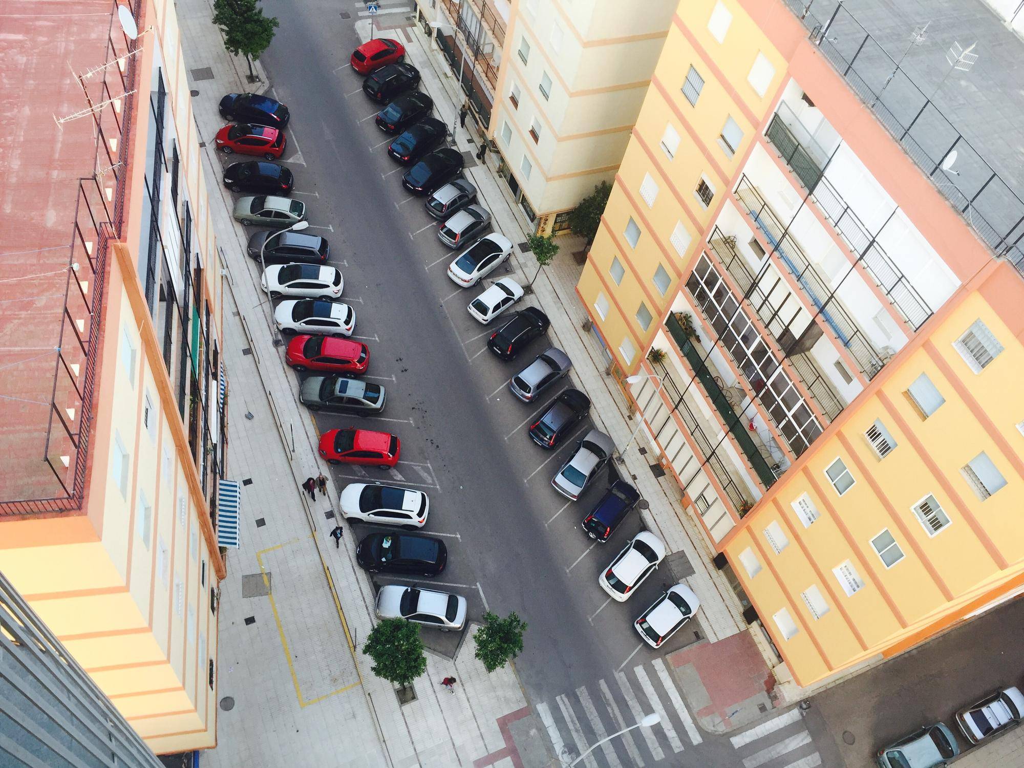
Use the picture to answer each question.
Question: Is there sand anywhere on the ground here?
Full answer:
No, the scene doesn't show any sand.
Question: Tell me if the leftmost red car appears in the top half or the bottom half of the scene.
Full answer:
It is in the top half that the leftmost red car appears.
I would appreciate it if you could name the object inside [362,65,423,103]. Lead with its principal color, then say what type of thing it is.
black car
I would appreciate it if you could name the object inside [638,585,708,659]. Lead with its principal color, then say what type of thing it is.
white car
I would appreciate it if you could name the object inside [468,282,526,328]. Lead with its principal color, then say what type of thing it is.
white car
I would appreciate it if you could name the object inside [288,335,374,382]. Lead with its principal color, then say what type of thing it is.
red car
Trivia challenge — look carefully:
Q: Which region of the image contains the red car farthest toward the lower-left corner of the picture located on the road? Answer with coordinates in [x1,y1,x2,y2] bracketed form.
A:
[320,426,403,472]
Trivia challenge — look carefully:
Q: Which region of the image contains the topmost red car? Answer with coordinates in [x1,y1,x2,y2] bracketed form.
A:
[350,40,407,77]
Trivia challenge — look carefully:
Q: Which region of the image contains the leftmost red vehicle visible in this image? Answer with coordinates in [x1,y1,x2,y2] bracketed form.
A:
[214,122,286,159]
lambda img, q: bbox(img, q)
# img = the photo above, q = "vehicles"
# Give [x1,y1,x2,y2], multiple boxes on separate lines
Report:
[249,230,332,266]
[375,586,470,636]
[277,296,359,340]
[301,378,390,423]
[529,393,596,451]
[508,351,576,405]
[386,121,452,165]
[373,95,437,136]
[549,436,622,504]
[223,161,296,198]
[488,310,555,364]
[438,210,495,253]
[882,724,968,768]
[581,483,648,551]
[362,65,423,103]
[288,335,374,382]
[402,151,468,196]
[424,180,480,222]
[446,235,517,288]
[358,534,450,583]
[604,534,676,606]
[468,282,526,328]
[320,426,403,472]
[263,260,346,301]
[217,94,289,131]
[214,122,286,159]
[638,585,708,659]
[350,40,407,77]
[233,194,311,233]
[340,483,434,534]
